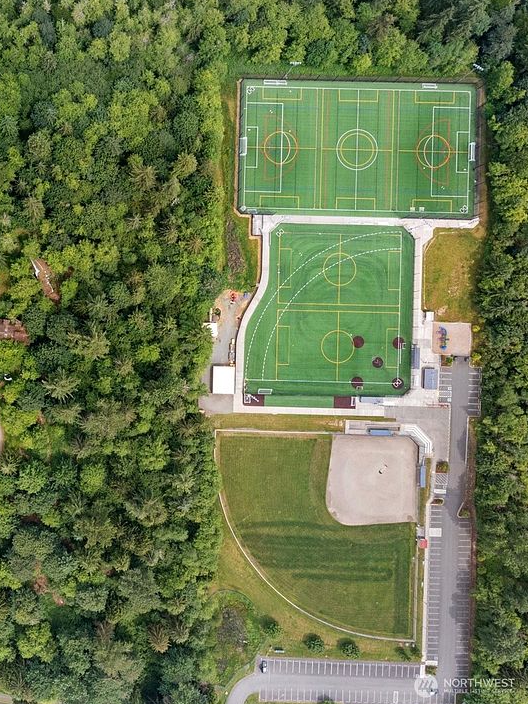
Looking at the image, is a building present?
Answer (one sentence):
Yes, there is a building in the image.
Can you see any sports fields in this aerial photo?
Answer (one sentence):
Yes, looking at the shot, I can spot a sports field.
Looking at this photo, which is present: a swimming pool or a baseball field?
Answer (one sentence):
Looking from above, you can make out a baseball field.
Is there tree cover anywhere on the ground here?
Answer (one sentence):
Yes, there is tree cover in the image.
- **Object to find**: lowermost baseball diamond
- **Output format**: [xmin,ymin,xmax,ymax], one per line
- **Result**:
[215,431,417,640]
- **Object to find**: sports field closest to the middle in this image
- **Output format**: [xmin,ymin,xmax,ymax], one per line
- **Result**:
[243,224,415,409]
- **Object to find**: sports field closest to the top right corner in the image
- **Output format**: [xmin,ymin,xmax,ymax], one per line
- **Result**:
[240,80,475,217]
